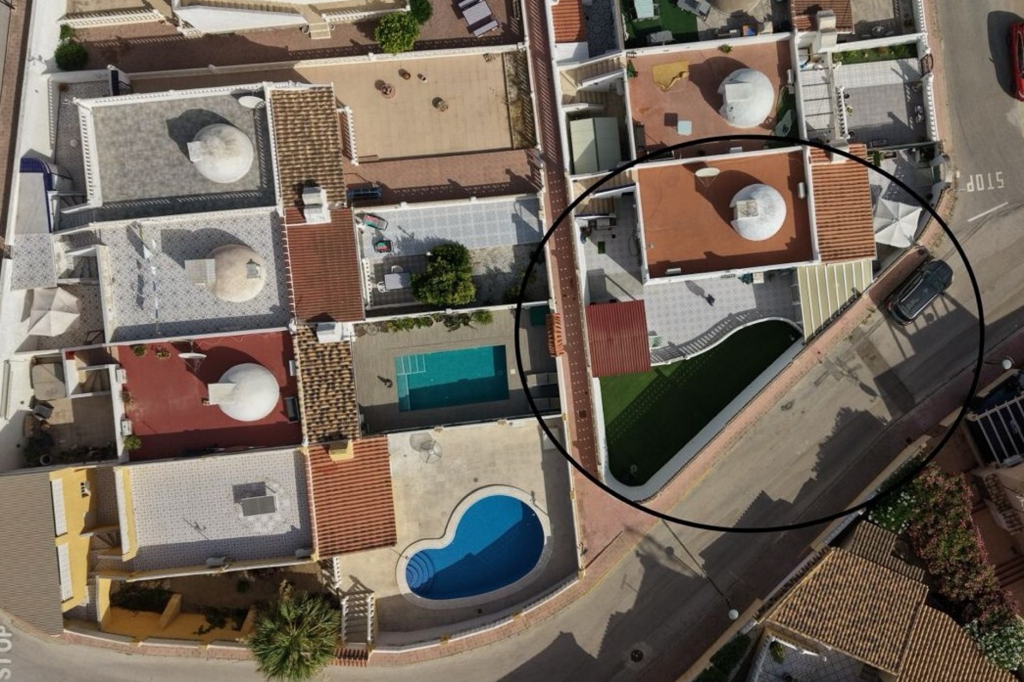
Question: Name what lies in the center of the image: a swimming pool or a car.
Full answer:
You can see a swimming pool in the center of the image.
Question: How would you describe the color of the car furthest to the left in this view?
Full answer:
The color of the car furthest to the left is black.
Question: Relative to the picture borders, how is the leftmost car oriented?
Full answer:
From this overhead view, the leftmost car appears to run on a diagonal.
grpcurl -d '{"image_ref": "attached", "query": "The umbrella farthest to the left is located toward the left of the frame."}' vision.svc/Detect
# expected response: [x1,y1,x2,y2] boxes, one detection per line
[32,286,88,338]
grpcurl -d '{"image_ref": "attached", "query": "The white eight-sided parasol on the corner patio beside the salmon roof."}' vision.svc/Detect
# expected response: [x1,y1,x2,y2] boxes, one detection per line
[873,192,925,247]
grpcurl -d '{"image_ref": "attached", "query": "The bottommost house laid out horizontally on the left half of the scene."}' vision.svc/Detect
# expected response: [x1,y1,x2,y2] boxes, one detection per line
[115,433,397,585]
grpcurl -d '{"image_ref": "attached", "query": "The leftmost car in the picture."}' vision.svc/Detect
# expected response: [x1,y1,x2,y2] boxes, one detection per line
[879,258,954,329]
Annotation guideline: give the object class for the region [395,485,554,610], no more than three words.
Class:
swimming pool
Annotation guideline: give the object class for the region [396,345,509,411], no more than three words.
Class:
swimming pool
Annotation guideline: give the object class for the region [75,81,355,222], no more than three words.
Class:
house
